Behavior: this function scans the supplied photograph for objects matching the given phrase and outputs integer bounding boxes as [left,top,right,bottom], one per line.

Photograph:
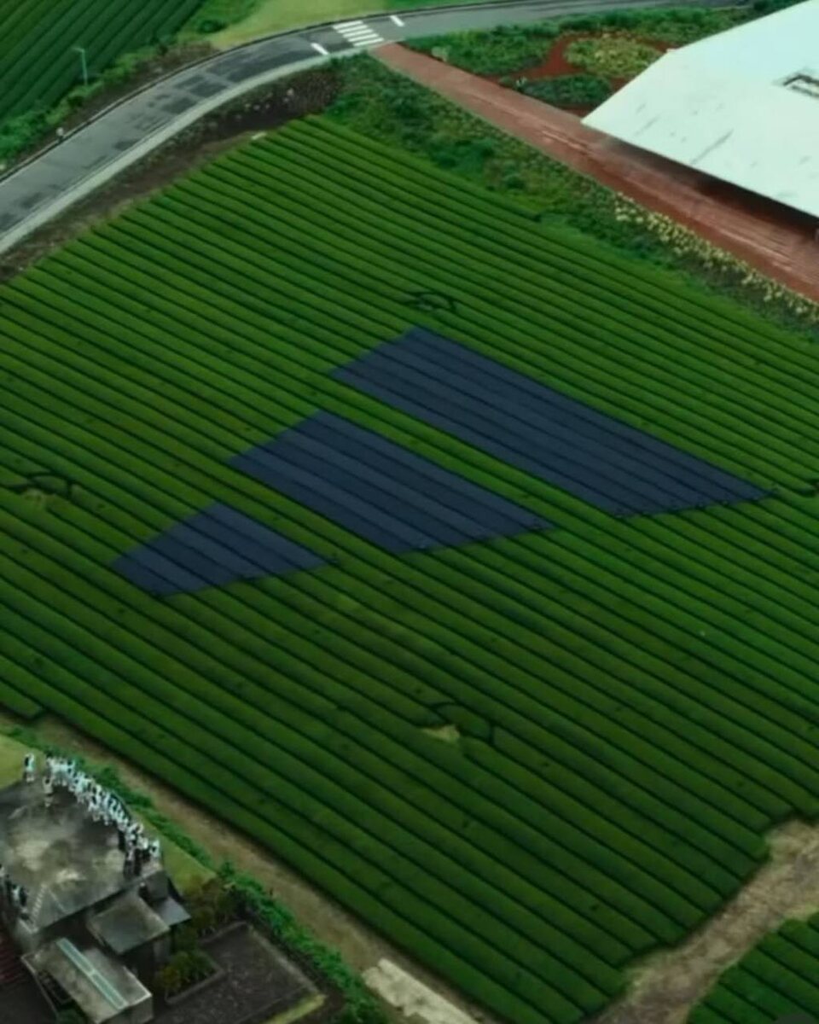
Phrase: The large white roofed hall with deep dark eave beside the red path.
[580,0,819,243]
